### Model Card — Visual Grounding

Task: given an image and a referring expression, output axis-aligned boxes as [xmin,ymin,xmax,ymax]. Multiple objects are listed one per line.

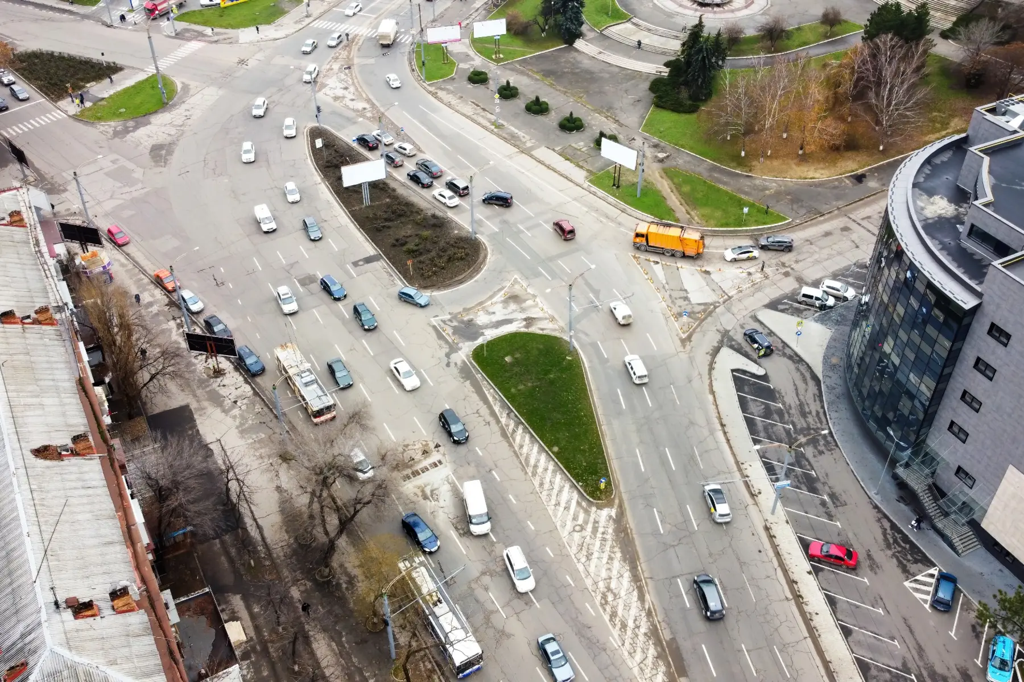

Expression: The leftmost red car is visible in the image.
[108,225,128,247]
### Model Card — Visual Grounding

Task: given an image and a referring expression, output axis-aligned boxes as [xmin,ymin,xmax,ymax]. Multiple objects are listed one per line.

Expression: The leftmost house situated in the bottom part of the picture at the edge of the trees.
[0,192,197,682]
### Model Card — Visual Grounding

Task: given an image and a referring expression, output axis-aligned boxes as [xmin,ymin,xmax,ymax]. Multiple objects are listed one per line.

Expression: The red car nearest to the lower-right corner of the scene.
[807,542,859,569]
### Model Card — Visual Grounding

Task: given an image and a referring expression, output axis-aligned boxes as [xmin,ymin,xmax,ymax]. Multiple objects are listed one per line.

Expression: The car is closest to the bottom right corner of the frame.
[988,633,1017,682]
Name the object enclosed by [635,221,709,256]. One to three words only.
truck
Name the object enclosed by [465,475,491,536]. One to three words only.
vehicle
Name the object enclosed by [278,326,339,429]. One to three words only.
bus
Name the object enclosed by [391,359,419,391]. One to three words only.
car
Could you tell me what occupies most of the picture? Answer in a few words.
paved ground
